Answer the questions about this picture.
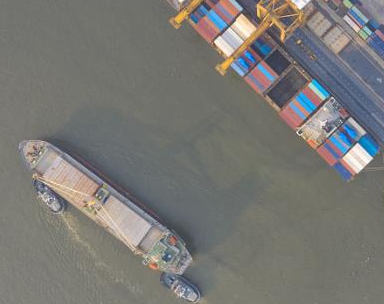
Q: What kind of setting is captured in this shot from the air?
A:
port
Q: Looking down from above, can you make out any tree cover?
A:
No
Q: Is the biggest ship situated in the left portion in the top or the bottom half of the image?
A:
bottom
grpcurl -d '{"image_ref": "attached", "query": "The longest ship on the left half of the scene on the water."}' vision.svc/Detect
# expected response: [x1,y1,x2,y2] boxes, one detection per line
[21,140,195,277]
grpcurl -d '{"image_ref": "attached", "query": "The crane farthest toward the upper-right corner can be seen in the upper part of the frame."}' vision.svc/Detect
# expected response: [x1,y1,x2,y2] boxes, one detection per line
[215,0,318,74]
